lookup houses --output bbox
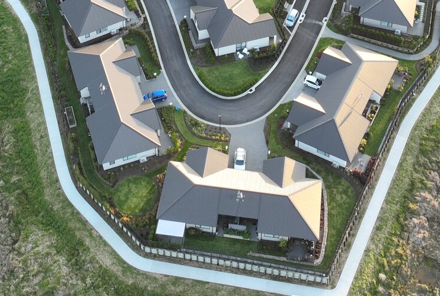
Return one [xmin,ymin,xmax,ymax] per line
[179,0,274,55]
[67,36,181,169]
[61,0,140,43]
[338,0,417,33]
[155,140,322,250]
[274,39,398,167]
